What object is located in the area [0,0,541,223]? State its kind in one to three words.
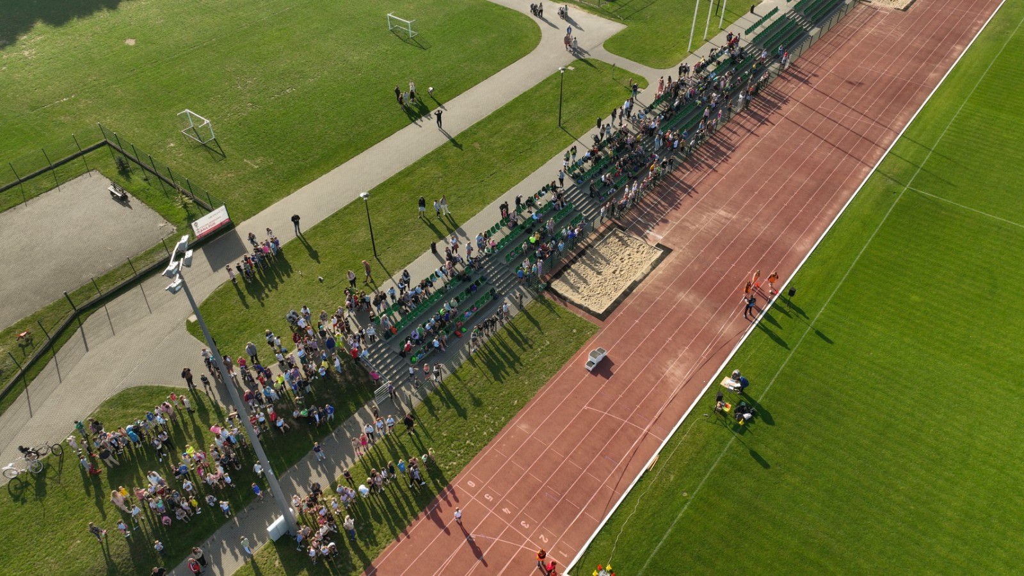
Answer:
sports field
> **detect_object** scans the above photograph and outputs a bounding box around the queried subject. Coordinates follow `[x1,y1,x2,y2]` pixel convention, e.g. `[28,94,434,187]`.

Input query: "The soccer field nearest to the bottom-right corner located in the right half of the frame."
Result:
[569,0,1024,576]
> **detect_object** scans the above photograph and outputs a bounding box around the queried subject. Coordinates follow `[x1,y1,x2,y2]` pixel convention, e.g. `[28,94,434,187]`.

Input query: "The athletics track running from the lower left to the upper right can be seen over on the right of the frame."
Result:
[359,0,1006,576]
